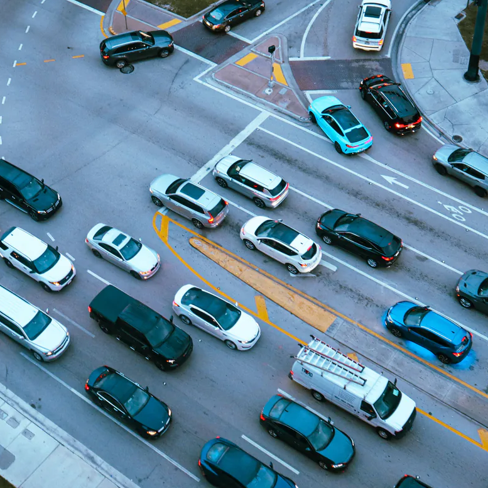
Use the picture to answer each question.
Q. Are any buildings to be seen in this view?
No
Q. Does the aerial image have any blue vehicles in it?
Yes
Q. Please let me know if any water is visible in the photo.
No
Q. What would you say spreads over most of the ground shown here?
paved ground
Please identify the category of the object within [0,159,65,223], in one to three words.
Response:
car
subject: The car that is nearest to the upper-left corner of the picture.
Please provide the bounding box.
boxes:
[99,26,177,68]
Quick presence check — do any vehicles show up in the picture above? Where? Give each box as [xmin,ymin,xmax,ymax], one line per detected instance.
[0,225,78,294]
[434,145,488,199]
[147,176,230,232]
[258,394,356,473]
[87,285,196,372]
[212,156,292,210]
[316,211,409,272]
[0,159,65,223]
[170,285,262,351]
[196,434,296,488]
[0,281,72,364]
[199,0,268,34]
[361,73,424,137]
[81,361,172,438]
[295,336,420,442]
[385,301,479,367]
[99,26,177,68]
[239,216,327,277]
[85,223,164,281]
[455,269,488,316]
[312,103,371,158]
